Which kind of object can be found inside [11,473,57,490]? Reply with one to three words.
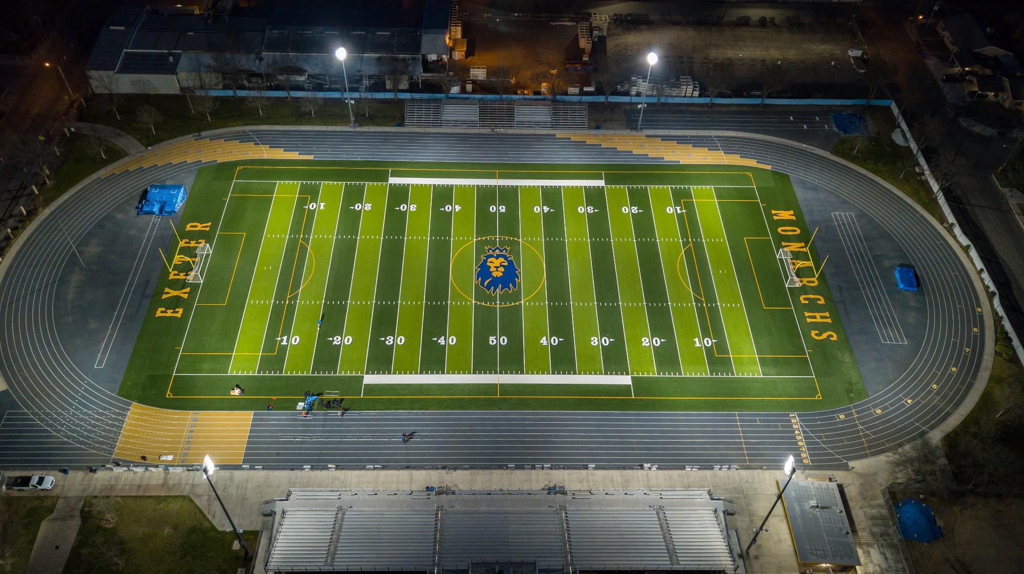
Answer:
vehicle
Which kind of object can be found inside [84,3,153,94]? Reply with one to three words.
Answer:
house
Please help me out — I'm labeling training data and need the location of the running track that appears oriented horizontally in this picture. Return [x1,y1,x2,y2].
[0,114,986,468]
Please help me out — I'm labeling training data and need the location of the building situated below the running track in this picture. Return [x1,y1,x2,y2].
[778,482,861,569]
